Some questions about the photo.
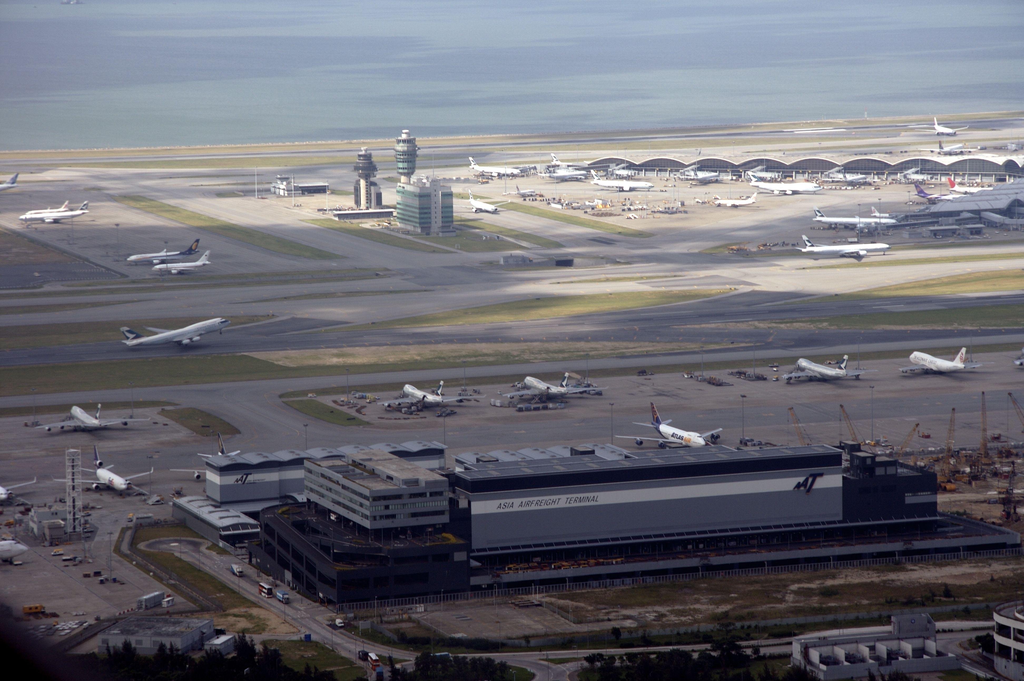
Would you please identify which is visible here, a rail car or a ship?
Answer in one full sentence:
The image shows a ship.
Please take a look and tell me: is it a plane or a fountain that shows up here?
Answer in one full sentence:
Looking from above, you can make out a plane.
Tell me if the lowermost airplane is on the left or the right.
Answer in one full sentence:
The lowermost airplane sits on the left side.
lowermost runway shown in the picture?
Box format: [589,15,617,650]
[0,230,1024,366]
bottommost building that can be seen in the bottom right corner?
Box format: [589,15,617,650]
[771,596,957,679]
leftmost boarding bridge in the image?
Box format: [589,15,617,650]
[514,165,546,178]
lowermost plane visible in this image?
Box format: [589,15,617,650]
[124,318,237,351]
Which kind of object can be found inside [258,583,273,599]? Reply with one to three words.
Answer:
vehicle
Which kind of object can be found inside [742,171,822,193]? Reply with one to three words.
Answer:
airplane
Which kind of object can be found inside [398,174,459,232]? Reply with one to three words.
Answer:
building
